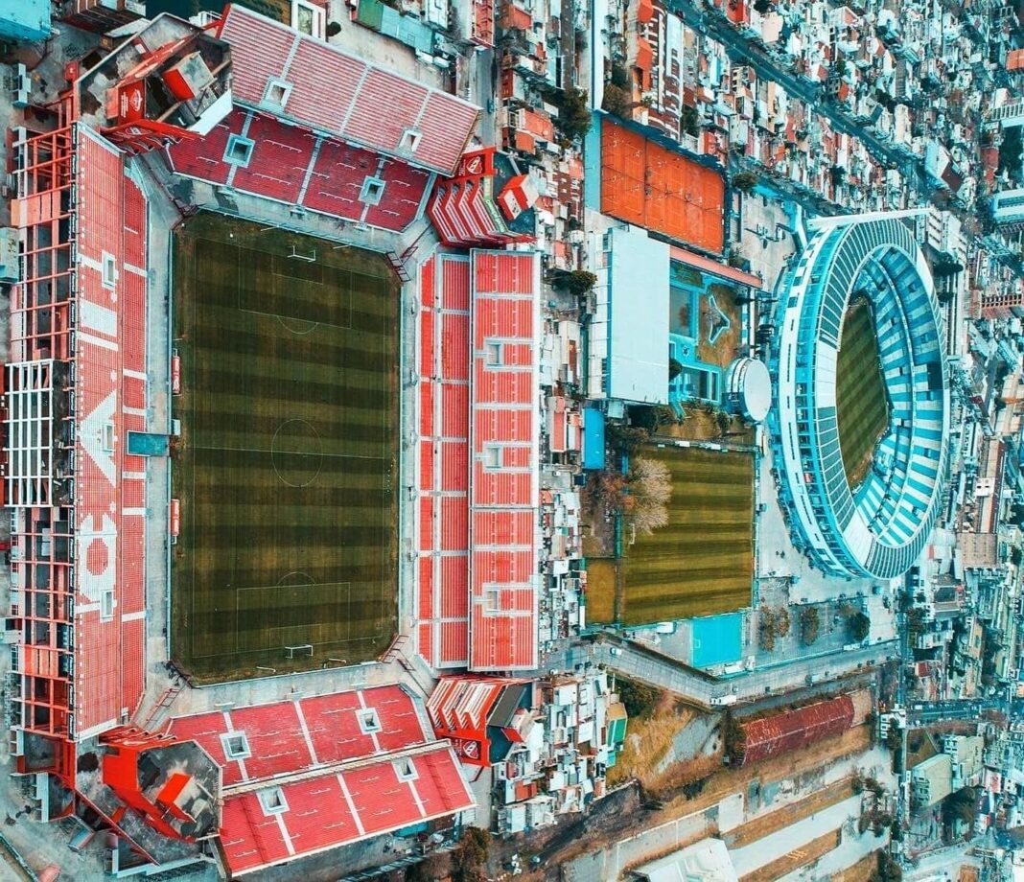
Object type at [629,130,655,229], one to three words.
tennis court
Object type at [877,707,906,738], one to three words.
house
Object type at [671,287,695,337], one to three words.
swimming pool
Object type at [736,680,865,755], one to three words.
shed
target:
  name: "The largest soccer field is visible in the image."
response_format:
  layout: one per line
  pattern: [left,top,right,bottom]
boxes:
[174,209,401,684]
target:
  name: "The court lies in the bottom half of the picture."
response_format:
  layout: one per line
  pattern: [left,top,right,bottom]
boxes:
[692,614,743,668]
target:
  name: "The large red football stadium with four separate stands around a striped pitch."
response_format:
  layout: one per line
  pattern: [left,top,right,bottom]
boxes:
[0,5,547,882]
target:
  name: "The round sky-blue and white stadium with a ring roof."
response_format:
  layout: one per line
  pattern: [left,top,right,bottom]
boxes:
[764,208,950,578]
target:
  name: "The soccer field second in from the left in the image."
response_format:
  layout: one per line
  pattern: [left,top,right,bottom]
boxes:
[588,559,615,622]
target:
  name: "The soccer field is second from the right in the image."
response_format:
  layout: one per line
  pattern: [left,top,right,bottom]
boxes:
[620,448,754,624]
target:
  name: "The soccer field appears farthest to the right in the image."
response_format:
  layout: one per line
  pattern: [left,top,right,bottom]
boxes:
[838,297,891,475]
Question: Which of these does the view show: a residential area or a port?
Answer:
residential area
